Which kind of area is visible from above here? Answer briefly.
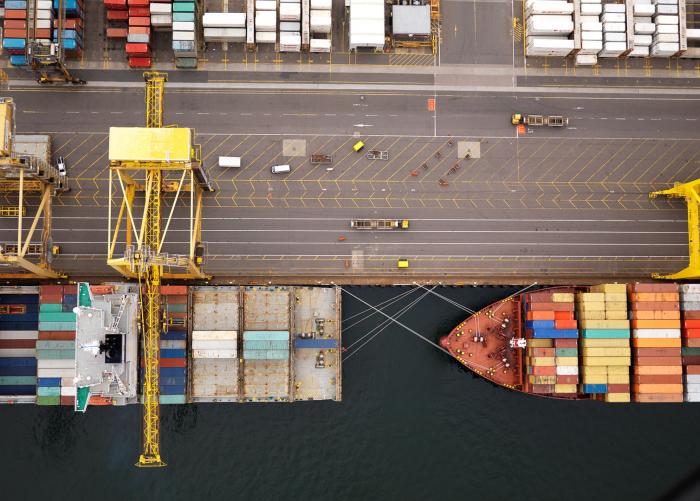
port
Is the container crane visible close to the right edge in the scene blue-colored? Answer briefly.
No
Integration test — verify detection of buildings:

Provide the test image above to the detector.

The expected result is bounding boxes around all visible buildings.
[348,0,384,55]
[388,4,431,46]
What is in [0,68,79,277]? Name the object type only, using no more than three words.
container crane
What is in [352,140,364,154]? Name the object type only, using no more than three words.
vehicle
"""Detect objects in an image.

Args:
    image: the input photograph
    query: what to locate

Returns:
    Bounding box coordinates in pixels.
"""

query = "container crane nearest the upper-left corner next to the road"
[21,0,88,81]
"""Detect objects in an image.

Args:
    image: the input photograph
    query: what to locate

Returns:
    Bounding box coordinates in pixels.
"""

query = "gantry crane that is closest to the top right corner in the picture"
[647,176,700,278]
